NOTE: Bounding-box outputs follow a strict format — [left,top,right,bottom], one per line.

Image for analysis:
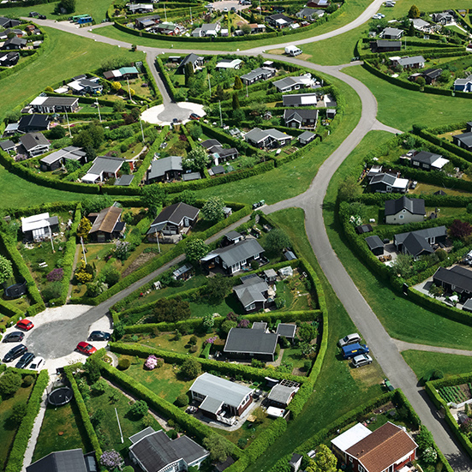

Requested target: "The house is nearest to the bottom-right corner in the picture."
[332,422,417,472]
